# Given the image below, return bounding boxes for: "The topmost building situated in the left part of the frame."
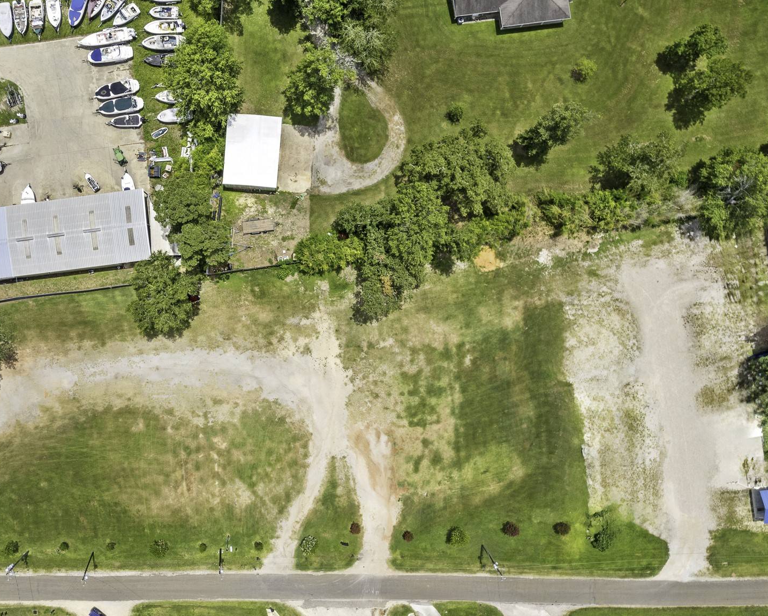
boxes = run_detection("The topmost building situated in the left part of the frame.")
[223,114,282,189]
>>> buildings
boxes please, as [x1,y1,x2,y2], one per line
[223,114,282,189]
[754,487,768,524]
[452,0,573,31]
[0,189,153,280]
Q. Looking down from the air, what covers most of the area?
grass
